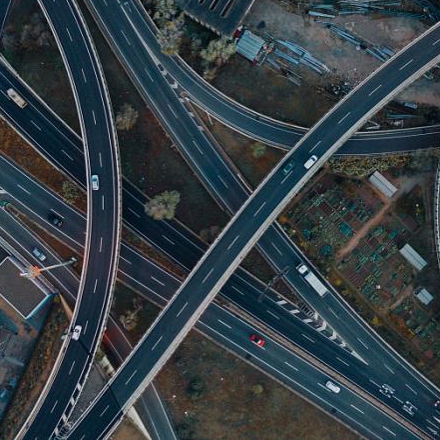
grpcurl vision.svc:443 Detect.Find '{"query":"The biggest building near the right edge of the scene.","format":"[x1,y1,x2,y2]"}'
[399,244,428,271]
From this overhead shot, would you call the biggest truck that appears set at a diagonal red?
No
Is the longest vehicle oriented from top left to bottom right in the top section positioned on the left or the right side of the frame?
left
